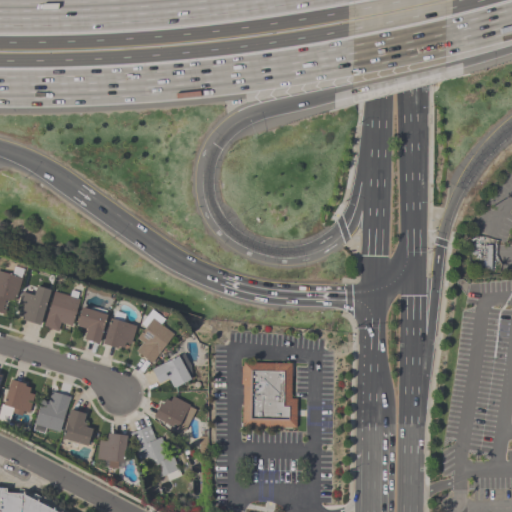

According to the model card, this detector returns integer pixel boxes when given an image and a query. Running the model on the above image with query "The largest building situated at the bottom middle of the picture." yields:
[244,362,298,428]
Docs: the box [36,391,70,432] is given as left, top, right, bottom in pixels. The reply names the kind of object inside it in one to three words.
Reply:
house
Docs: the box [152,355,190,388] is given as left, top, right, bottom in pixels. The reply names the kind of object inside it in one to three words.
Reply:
house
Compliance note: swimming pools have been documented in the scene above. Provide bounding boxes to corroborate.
[120,304,138,322]
[190,417,199,440]
[71,446,92,459]
[188,342,198,361]
[125,460,138,482]
[88,296,108,306]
